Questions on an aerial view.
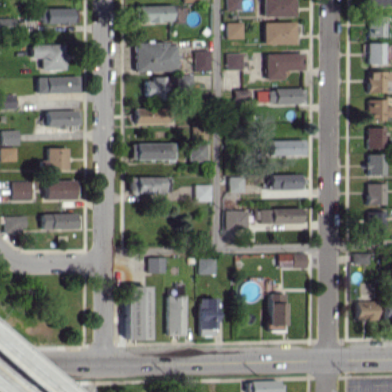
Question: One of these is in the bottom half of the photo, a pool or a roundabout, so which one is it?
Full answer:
The one visible in the bottom half of the photo is a pool.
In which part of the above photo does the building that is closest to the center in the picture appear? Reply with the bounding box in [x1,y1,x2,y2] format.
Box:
[195,184,212,204]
